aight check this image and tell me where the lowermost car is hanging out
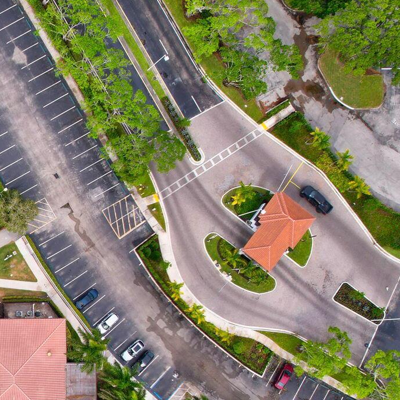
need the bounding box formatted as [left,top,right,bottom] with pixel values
[274,364,294,392]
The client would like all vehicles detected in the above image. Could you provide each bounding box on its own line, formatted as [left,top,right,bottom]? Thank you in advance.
[274,364,294,392]
[75,286,101,310]
[97,310,121,336]
[133,349,159,374]
[120,337,147,363]
[301,184,338,215]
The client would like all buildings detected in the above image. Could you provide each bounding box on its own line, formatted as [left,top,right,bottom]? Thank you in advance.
[236,191,316,273]
[0,318,97,400]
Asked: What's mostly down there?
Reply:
paved ground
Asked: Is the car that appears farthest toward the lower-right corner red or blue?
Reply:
red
